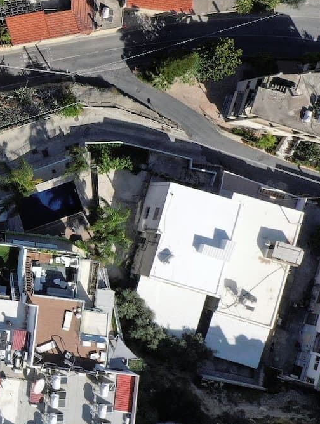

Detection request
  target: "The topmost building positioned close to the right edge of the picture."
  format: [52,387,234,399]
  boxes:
[212,61,320,161]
